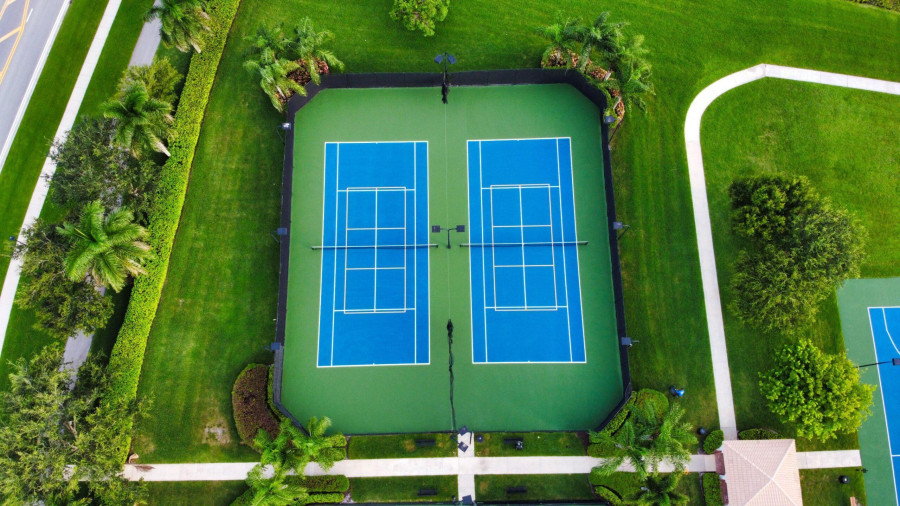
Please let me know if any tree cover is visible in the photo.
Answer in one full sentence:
Yes, there's tree cover in this view.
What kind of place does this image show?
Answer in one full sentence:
It's a sports ground.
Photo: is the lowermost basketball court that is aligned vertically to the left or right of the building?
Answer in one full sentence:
The lowermost basketball court that is aligned vertically can be seen on the right of the building.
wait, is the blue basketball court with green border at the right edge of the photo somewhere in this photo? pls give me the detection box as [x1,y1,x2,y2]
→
[836,278,900,506]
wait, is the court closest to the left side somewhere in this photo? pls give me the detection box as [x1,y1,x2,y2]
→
[280,86,452,435]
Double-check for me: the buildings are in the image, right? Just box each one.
[715,437,805,506]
